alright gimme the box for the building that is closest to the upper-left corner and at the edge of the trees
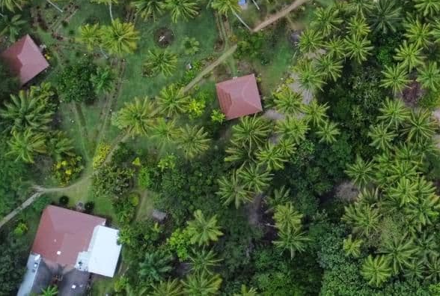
[0,34,55,88]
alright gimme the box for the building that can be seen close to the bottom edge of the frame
[19,207,122,296]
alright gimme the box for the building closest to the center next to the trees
[216,73,266,123]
